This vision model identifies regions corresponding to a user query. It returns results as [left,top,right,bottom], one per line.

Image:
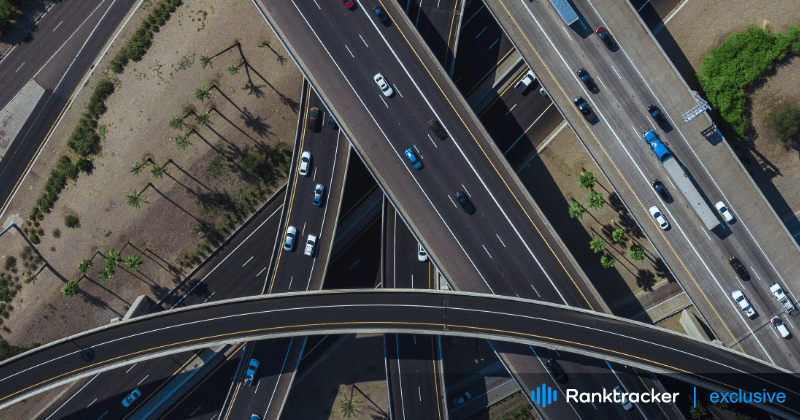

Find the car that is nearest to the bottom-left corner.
[123,386,143,406]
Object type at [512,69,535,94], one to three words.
truck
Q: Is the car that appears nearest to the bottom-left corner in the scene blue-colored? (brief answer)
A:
Yes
